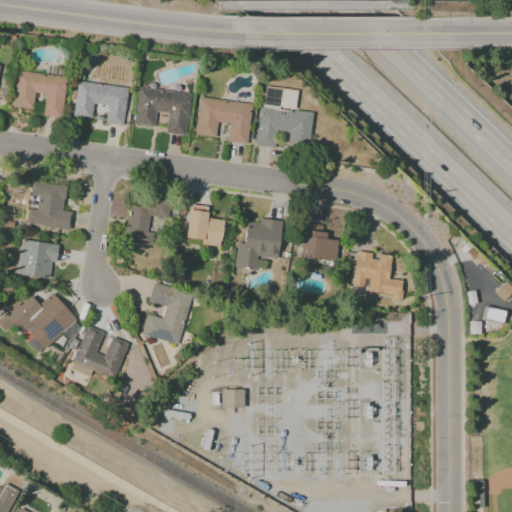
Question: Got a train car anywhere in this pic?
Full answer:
No, no train car is visible in the scene.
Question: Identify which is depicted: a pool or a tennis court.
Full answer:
I can see a pool in this picture.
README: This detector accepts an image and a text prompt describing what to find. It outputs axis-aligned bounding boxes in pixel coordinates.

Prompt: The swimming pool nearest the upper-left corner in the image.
[33,46,60,64]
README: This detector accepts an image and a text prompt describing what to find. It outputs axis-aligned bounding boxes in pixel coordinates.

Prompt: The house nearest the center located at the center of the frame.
[236,219,284,268]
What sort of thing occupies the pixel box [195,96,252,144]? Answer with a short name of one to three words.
house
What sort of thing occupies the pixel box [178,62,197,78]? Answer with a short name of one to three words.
swimming pool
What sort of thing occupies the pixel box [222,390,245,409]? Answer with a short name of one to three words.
building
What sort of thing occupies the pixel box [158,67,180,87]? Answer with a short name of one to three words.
swimming pool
